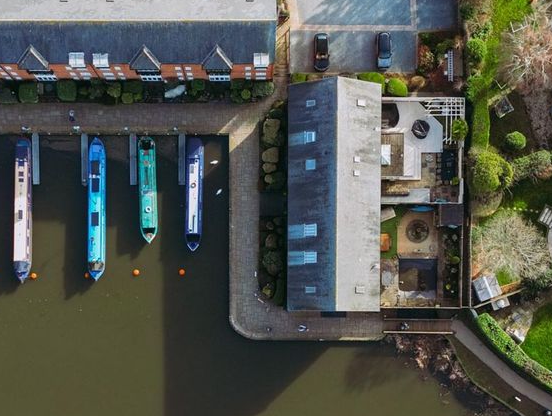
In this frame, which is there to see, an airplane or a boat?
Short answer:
boat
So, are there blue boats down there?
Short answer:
Yes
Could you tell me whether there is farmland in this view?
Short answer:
No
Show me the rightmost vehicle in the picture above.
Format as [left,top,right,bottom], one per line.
[376,30,394,67]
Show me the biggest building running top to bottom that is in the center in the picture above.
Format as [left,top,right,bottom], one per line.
[283,78,383,312]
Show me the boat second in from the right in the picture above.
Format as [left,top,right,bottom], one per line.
[138,136,157,245]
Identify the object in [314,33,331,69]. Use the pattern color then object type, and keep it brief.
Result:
black car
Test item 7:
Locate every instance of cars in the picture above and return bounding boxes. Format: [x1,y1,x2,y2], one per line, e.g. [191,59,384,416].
[376,30,394,67]
[314,33,331,69]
